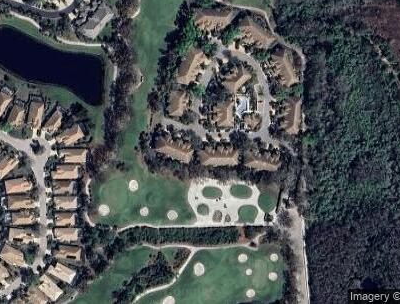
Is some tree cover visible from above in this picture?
Yes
